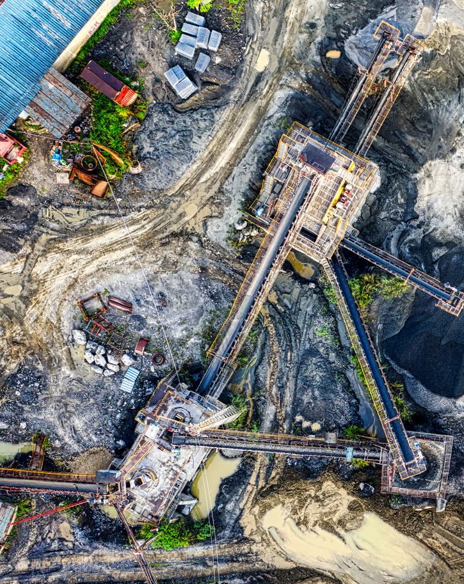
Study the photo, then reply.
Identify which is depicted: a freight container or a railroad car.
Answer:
freight container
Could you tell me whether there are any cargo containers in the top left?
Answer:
Yes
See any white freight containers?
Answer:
No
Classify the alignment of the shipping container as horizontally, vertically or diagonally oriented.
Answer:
diagonally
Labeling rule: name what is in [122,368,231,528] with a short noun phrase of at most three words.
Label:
house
